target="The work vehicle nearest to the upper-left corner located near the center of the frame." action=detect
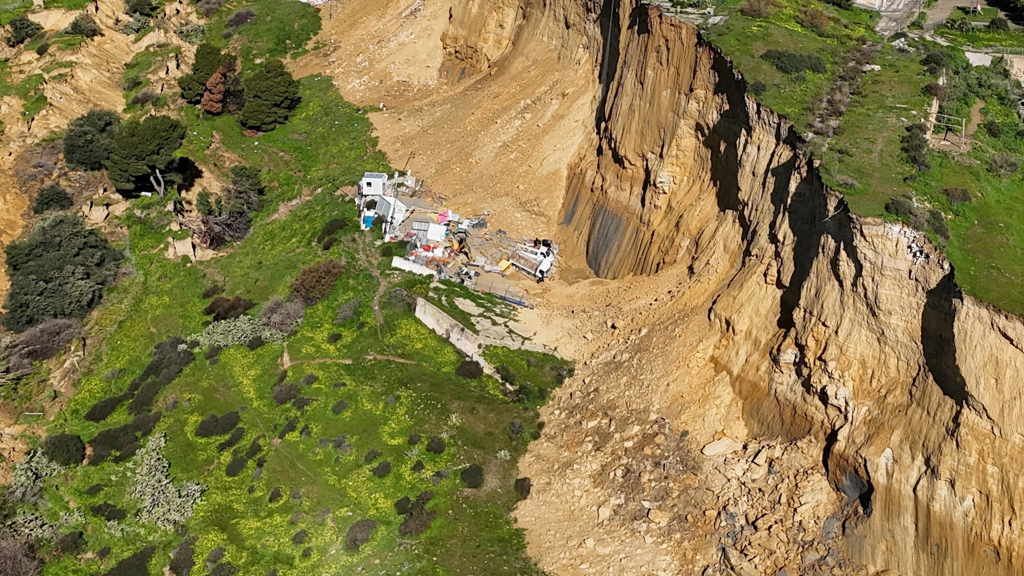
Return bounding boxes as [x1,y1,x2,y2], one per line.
[451,230,474,261]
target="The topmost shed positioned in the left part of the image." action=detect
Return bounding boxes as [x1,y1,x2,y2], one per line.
[365,170,391,197]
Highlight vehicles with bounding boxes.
[505,252,553,282]
[517,246,562,268]
[451,230,474,261]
